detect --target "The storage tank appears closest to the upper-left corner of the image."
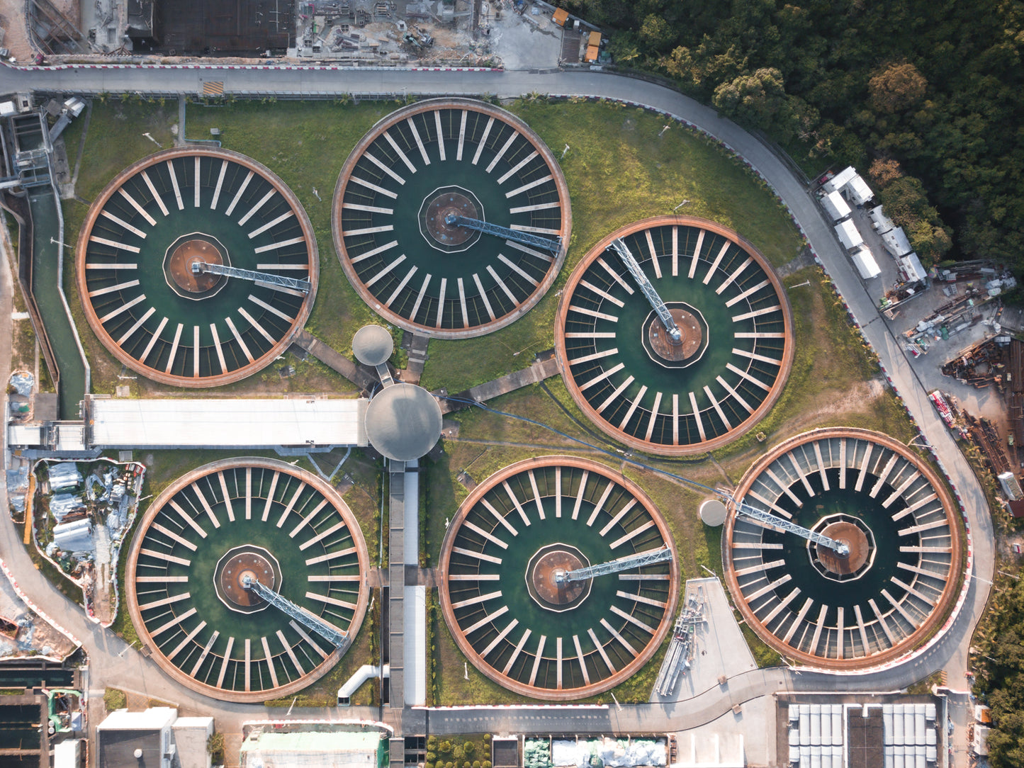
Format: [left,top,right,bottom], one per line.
[75,146,318,388]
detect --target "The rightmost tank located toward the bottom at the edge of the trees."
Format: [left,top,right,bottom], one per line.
[721,426,967,671]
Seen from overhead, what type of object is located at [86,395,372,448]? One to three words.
building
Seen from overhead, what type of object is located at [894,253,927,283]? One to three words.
building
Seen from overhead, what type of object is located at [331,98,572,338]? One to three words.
storage tank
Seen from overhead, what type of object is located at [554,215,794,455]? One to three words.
storage tank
